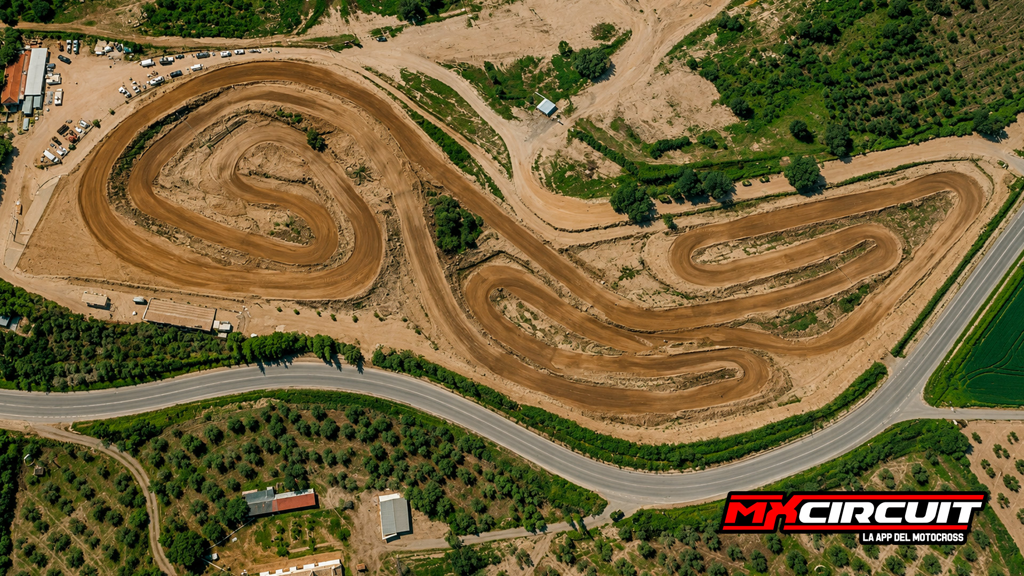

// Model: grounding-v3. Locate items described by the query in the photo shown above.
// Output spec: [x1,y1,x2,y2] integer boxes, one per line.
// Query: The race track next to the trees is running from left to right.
[78,61,983,414]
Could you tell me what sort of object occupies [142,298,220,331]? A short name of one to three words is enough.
barn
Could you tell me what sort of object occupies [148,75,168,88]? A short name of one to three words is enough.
vehicle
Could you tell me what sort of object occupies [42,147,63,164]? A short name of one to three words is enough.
vehicle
